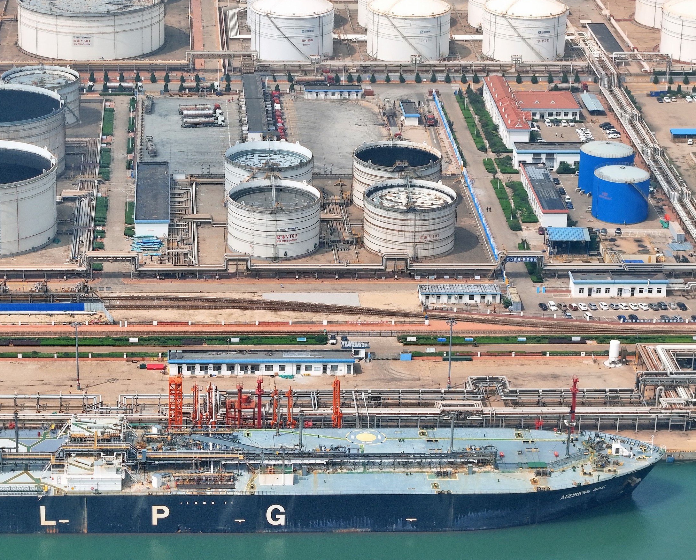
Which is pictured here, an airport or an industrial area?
industrial area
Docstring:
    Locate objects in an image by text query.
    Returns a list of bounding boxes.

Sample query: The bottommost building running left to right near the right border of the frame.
[568,271,670,299]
